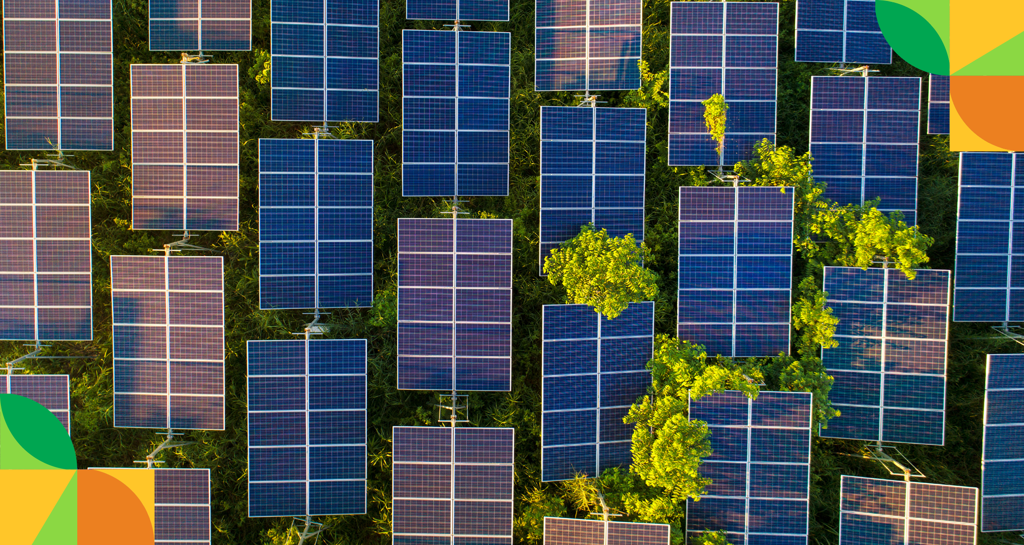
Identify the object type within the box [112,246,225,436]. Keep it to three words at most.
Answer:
solar array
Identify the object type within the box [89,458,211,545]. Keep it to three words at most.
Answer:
solar array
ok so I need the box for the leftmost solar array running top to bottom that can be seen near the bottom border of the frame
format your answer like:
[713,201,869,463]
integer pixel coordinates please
[0,364,73,545]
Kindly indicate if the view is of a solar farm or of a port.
solar farm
